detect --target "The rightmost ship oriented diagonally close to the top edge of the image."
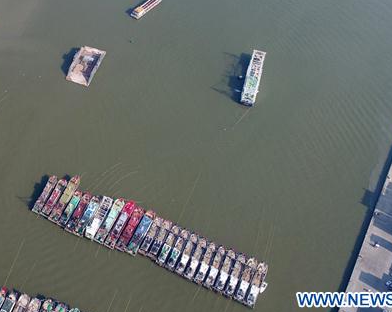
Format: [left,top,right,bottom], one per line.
[131,0,161,20]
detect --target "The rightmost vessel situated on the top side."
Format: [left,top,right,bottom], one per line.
[243,47,266,112]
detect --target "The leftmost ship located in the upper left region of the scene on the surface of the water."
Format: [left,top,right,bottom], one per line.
[65,47,105,91]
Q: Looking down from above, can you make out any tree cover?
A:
No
